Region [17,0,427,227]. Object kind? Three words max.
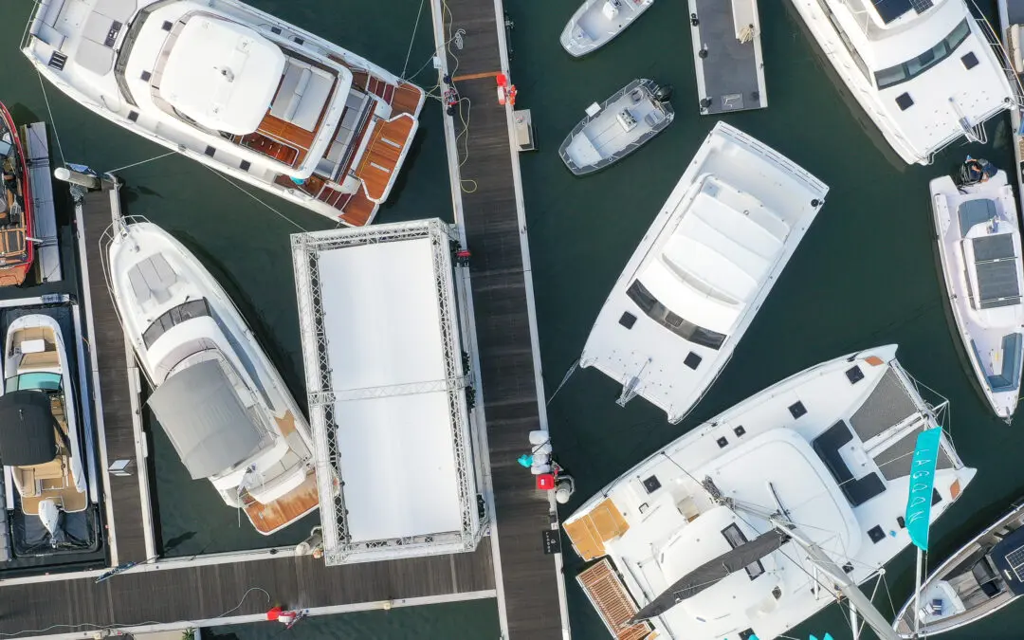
boat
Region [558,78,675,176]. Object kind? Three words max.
boat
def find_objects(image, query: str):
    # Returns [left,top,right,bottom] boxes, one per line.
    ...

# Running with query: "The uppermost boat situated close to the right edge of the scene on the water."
[787,0,1024,167]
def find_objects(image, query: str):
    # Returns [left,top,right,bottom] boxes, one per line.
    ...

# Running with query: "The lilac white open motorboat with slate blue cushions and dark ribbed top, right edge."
[922,163,1024,423]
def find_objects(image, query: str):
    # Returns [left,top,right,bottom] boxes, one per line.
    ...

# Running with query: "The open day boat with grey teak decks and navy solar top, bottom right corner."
[887,501,1024,639]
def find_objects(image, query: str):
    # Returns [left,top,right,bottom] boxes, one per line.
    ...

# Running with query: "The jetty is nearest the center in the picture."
[431,0,571,640]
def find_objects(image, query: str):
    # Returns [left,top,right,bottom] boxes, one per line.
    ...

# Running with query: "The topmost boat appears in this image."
[559,0,658,60]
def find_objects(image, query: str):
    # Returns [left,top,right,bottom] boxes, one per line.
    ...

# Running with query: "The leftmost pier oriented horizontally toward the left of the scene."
[0,535,500,640]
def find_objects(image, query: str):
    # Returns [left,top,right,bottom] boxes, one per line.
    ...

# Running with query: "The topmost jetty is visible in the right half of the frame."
[685,0,768,118]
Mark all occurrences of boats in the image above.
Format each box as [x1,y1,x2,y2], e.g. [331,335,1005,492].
[562,343,982,640]
[787,0,1024,167]
[0,97,44,288]
[887,501,1024,639]
[558,78,675,176]
[922,163,1024,423]
[559,0,658,60]
[545,121,829,424]
[99,215,321,534]
[17,0,427,227]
